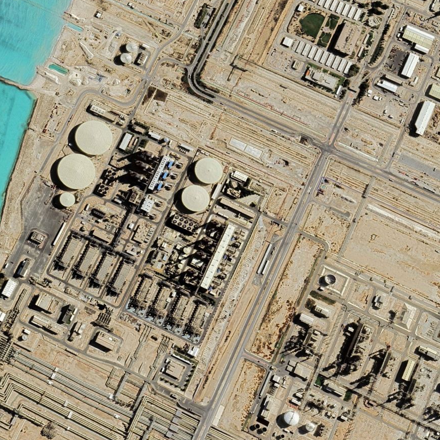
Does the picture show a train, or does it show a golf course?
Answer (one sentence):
Of the two, only a train appears.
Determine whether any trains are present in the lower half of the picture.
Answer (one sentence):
Yes, a train is visible in the lower half of the picture.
